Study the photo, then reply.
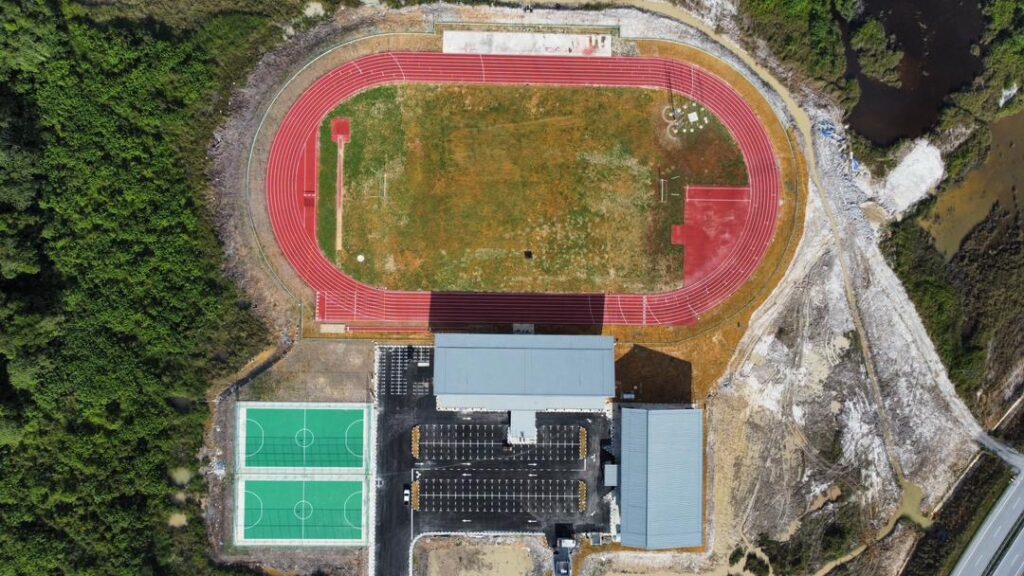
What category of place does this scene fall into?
sports ground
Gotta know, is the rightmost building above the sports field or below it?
below it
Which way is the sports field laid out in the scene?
from side to side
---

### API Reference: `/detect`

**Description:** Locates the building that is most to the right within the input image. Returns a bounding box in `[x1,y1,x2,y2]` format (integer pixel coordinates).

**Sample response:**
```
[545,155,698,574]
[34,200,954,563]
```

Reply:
[618,405,705,550]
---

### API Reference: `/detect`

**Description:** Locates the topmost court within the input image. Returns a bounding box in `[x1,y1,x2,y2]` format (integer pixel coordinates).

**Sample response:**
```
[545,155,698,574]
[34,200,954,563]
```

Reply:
[236,402,370,474]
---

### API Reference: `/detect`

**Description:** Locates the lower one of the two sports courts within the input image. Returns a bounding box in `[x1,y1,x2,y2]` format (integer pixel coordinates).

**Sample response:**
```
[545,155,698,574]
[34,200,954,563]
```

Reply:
[235,474,369,546]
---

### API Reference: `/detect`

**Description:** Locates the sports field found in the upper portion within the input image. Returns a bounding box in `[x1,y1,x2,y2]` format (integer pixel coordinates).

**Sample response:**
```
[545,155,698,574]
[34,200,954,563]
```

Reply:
[317,82,750,298]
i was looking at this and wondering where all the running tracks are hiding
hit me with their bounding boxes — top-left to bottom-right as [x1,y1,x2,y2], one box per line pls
[267,53,780,327]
